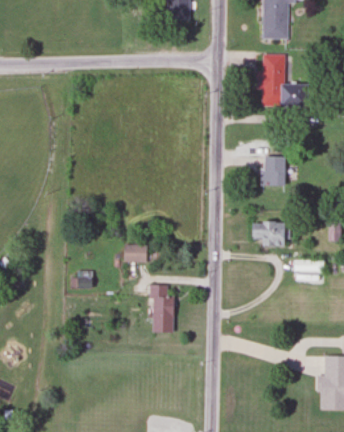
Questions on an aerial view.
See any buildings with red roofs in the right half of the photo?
Yes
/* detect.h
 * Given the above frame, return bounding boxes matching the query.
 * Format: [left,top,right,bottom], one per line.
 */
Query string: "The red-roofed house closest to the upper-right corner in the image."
[263,54,308,107]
